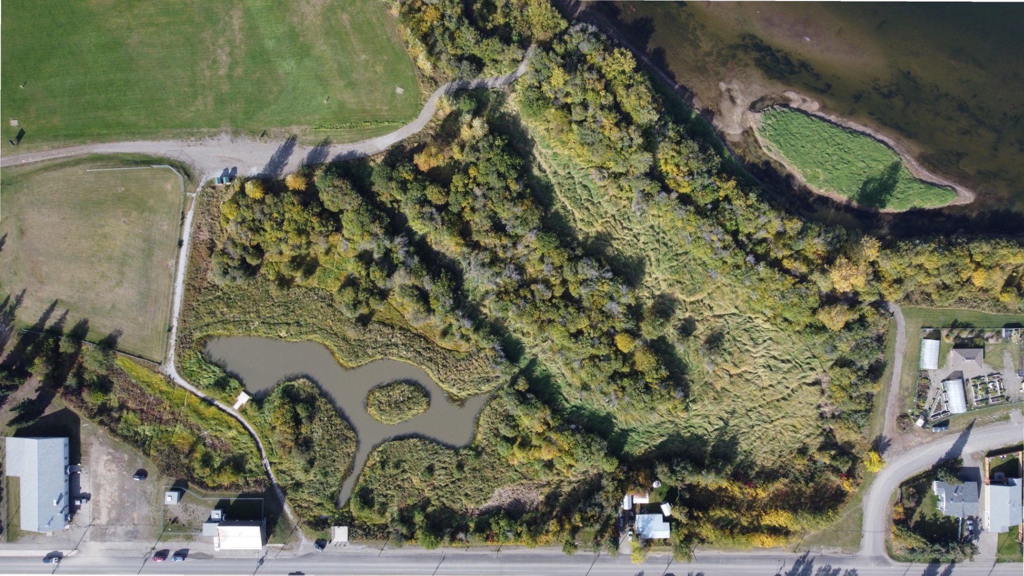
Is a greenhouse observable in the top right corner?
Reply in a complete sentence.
No, in the top right corner there is no greenhouse.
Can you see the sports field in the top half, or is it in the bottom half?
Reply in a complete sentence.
The top half of the photo is where the sports field is.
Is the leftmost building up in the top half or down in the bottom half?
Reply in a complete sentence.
It is in the bottom half that the leftmost building appears.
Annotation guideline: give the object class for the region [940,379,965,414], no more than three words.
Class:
greenhouse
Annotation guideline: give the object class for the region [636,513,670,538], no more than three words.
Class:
house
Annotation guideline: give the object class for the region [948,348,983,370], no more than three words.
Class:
building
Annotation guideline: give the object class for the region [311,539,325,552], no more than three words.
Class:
vehicle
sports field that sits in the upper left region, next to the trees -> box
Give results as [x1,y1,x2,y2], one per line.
[0,0,420,154]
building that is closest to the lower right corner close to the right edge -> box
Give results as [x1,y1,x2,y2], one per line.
[983,483,1022,534]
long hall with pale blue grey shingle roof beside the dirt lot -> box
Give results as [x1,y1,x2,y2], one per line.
[8,437,81,534]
